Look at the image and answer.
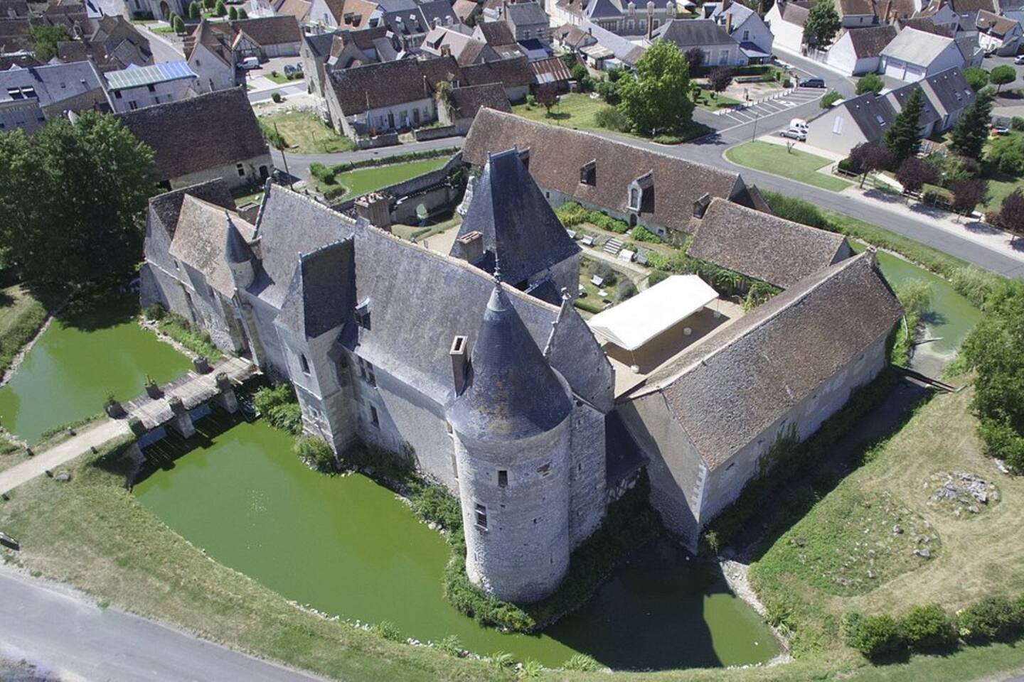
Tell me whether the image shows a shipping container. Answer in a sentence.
No, no shipping container can be seen from above.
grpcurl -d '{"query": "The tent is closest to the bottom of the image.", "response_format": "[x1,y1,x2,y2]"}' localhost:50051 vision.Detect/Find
[589,274,715,362]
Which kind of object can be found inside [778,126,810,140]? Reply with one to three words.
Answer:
car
